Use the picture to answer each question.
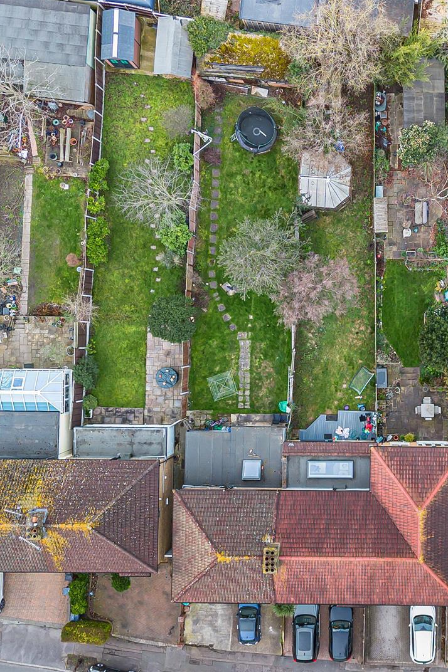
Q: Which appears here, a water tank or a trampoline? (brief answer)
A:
trampoline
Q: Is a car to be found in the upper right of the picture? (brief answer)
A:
No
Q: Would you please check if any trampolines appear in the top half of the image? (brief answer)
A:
Yes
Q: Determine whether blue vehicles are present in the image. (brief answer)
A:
Yes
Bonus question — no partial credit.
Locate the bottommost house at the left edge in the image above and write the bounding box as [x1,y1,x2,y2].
[0,453,176,573]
